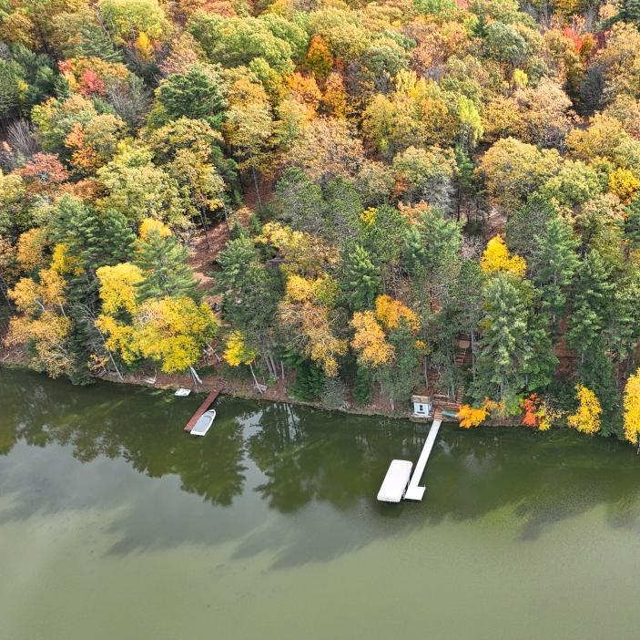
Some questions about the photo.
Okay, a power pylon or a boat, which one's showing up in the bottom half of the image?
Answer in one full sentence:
There is a boat in the bottom half of the image.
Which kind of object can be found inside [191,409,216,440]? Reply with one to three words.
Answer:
boat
